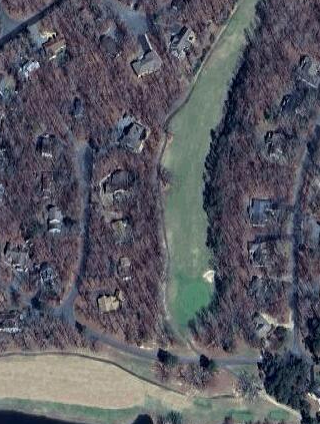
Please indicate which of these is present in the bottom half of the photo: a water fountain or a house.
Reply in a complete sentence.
It is a house that can be seen in the bottom half of the photo.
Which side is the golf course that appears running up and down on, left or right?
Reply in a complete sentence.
It is on the right.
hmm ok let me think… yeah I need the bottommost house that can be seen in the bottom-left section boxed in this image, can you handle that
[0,314,22,331]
